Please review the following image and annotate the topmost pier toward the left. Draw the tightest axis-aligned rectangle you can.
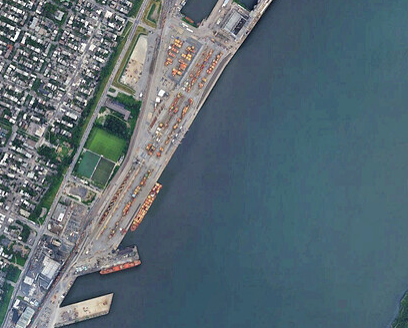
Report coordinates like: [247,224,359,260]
[77,246,140,276]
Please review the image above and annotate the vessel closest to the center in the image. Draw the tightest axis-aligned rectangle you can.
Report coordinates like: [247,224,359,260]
[132,183,162,231]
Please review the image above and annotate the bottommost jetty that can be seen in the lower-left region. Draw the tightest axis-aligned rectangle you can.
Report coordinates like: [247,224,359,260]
[55,294,113,327]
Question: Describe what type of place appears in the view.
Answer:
port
